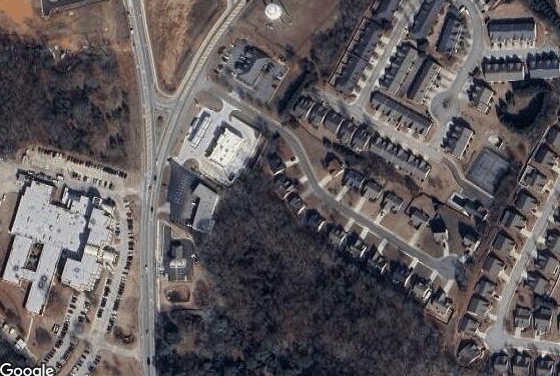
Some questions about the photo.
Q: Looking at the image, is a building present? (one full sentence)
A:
Yes, the frame does contain a building.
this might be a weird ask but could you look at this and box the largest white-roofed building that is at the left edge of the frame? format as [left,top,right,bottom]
[3,181,117,312]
